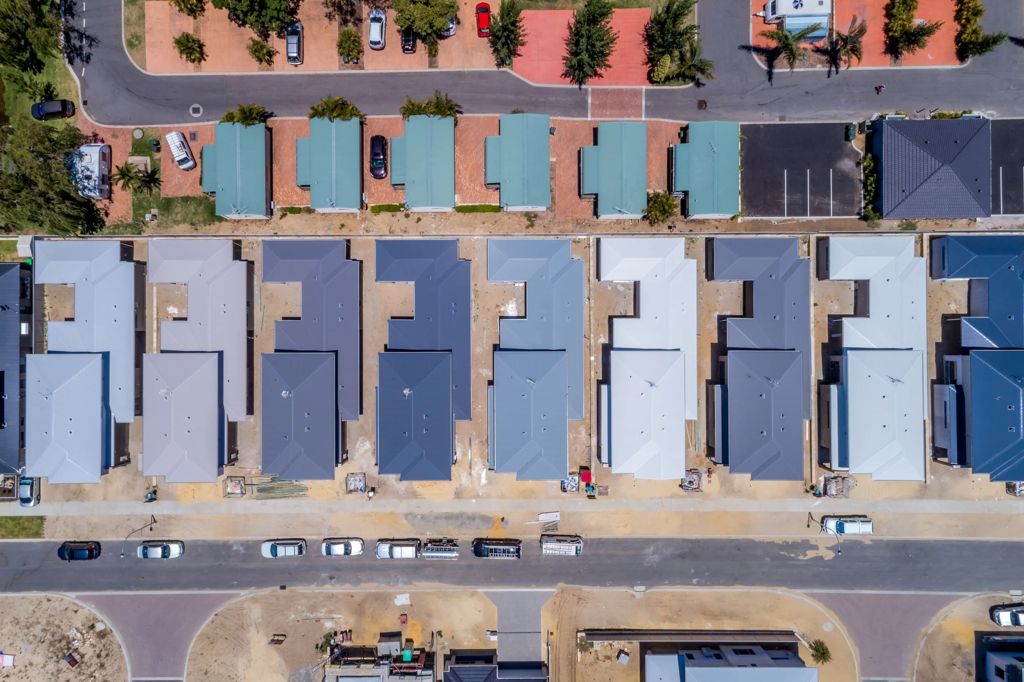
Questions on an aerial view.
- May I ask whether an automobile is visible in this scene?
Yes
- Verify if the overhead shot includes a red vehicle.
Yes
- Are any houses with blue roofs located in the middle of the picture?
Yes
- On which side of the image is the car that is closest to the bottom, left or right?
right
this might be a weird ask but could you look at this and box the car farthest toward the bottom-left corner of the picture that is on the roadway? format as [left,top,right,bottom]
[58,541,103,562]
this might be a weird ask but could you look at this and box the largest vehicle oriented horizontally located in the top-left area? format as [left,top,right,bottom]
[30,99,78,122]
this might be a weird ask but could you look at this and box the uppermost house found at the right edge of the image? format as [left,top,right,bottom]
[876,119,992,220]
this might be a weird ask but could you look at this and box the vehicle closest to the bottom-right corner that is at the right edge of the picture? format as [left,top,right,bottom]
[989,602,1024,628]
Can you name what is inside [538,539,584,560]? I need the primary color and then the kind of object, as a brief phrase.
white vehicle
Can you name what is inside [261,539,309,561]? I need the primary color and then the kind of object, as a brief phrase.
white car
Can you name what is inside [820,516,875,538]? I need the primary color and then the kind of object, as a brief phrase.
white truck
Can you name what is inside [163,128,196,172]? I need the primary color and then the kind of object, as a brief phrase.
white van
